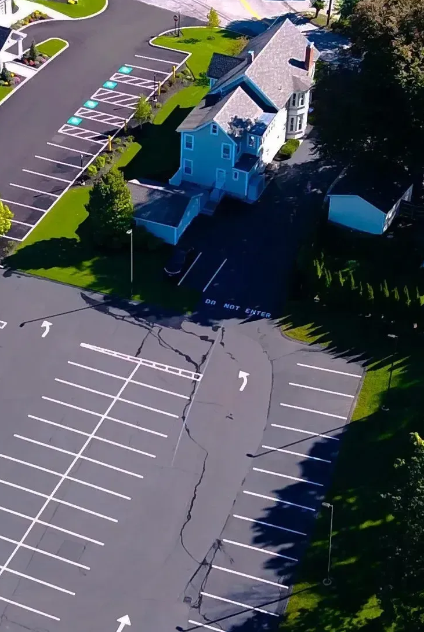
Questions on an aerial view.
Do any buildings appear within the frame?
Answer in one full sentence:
Yes, there's a building down there.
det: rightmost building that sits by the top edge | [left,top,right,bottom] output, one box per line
[174,17,321,197]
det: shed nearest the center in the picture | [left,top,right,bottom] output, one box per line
[135,184,217,245]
